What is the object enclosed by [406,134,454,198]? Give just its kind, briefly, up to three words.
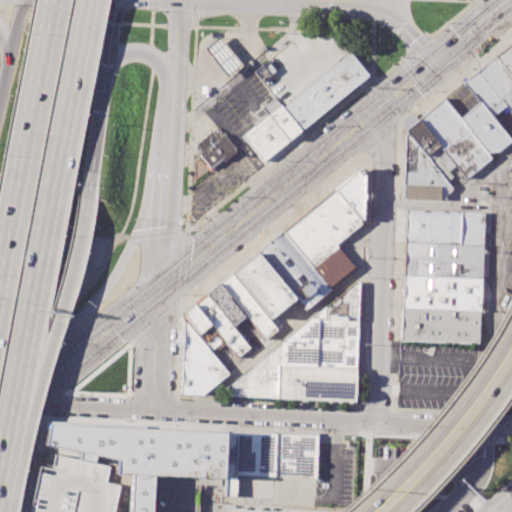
building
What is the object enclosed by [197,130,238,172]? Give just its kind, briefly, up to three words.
building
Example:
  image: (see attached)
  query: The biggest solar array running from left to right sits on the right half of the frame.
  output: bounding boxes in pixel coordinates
[306,384,355,398]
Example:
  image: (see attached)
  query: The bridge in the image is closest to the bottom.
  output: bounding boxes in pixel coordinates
[350,310,512,512]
